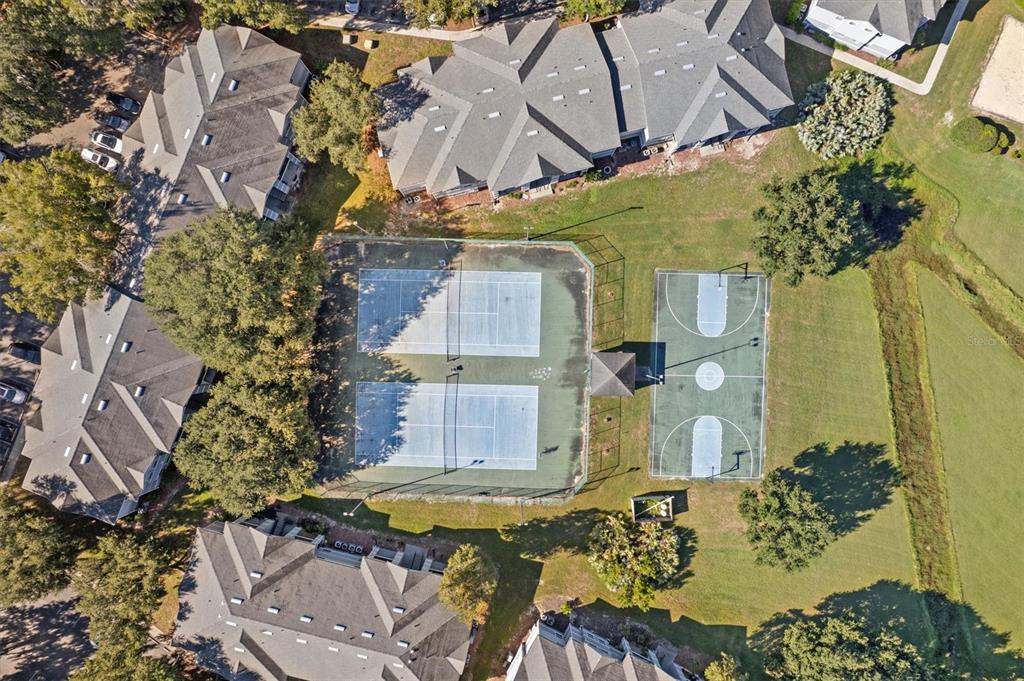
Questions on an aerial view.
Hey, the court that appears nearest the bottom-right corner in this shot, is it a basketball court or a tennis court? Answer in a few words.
basketball court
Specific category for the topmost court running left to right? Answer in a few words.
tennis court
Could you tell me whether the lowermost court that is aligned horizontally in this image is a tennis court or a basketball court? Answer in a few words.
tennis court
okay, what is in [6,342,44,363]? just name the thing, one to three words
car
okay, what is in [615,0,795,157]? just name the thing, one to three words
building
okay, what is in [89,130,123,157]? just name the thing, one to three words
car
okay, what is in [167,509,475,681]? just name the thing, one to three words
building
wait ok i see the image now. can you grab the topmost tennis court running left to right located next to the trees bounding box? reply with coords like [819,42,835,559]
[357,268,542,357]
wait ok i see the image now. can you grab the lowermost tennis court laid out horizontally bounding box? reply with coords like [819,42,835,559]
[355,382,539,470]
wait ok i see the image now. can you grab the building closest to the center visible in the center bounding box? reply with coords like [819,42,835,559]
[590,352,636,396]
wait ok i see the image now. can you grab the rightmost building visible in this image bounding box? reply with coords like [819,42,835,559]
[801,0,942,59]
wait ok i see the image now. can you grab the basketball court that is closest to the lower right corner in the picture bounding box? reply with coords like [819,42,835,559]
[650,270,771,481]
